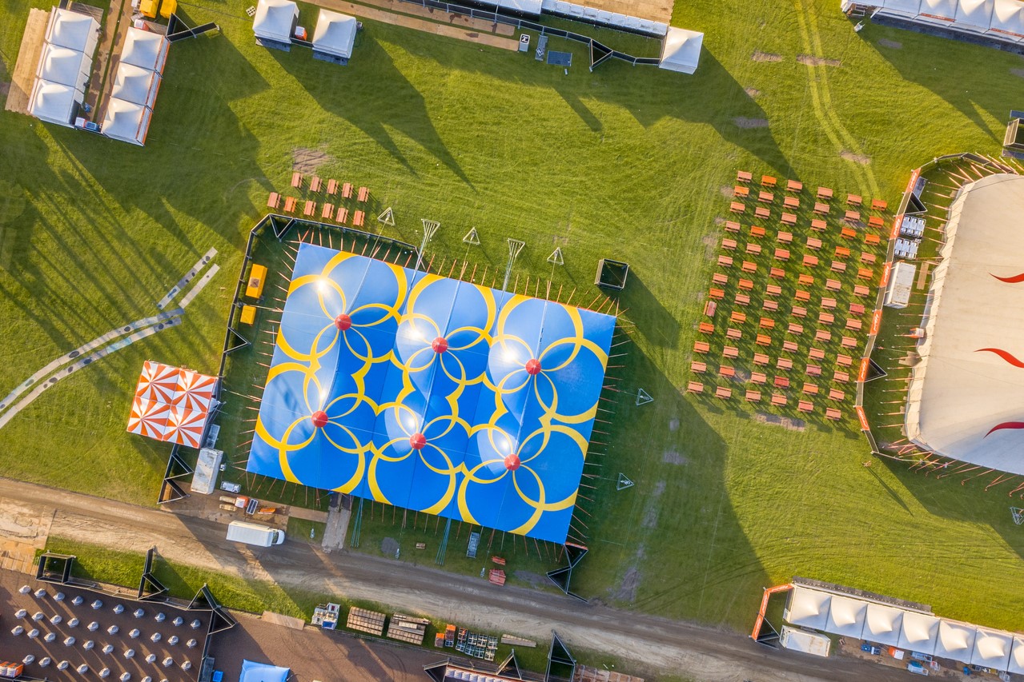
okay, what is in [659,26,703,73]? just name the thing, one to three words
tent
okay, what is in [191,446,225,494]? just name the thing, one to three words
shipping container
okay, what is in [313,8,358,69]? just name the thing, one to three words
tent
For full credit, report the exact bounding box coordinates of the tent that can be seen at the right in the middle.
[877,151,1024,499]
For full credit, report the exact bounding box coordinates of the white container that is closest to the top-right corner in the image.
[884,262,916,306]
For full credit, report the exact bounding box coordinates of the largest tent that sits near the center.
[237,228,626,557]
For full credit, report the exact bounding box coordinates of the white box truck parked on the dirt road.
[227,520,296,547]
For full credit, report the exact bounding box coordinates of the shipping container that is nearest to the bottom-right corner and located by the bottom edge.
[779,624,830,657]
